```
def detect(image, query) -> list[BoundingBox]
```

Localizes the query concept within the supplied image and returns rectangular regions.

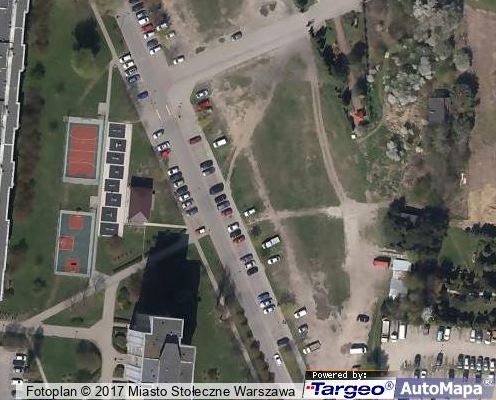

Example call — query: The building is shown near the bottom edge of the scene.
[123,311,196,400]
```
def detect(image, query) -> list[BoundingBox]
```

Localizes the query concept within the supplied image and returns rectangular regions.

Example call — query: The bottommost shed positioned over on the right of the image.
[388,279,407,300]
